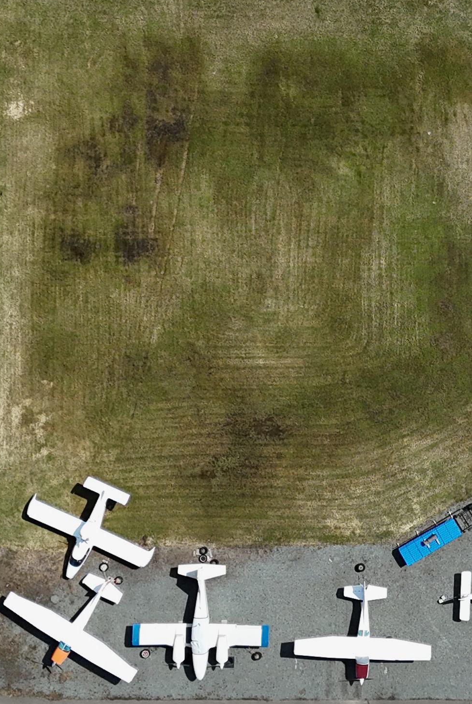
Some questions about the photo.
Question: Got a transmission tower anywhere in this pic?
No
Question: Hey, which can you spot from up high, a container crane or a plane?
plane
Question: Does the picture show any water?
No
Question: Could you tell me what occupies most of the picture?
grass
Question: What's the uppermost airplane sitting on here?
grass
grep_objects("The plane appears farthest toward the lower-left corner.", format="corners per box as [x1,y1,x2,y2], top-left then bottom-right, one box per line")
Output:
[5,572,136,684]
